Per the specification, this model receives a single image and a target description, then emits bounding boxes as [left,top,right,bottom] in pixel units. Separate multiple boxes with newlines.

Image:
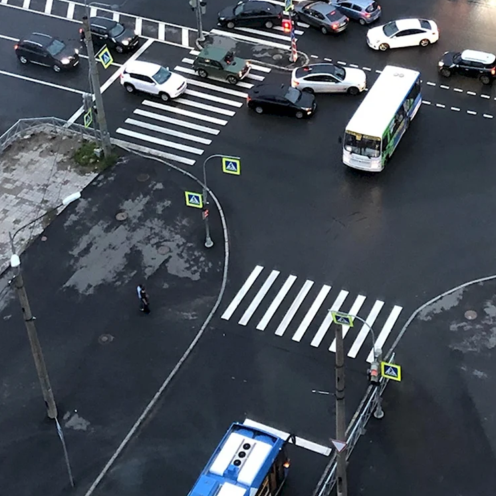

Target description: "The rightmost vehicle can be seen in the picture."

[439,48,496,82]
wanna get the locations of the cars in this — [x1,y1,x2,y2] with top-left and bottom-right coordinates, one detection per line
[439,48,496,82]
[117,57,189,102]
[288,0,354,31]
[75,13,145,53]
[242,81,319,119]
[216,0,286,31]
[366,18,440,52]
[11,28,81,69]
[192,43,252,84]
[291,62,367,97]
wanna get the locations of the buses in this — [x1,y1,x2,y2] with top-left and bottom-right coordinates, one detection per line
[193,426,304,496]
[336,66,421,174]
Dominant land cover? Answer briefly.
paved ground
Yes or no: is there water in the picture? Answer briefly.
No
